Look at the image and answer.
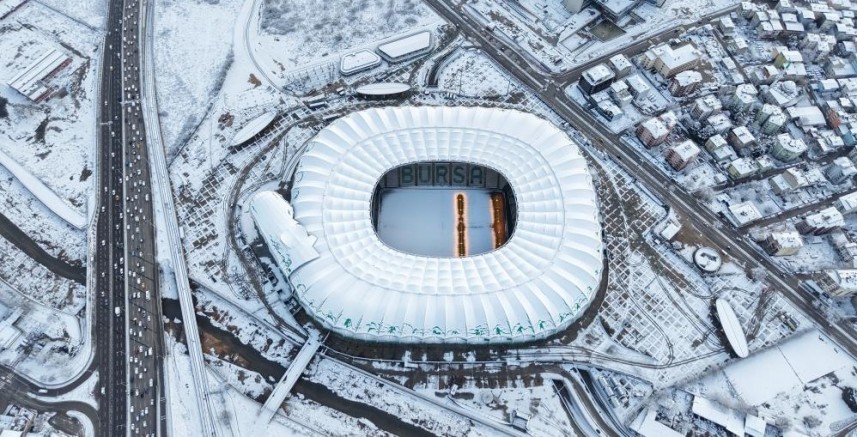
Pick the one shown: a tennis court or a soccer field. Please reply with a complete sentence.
Looking from above, you can make out a soccer field.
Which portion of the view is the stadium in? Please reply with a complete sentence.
The stadium is in the center part of the image.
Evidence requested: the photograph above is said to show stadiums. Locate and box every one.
[255,111,603,345]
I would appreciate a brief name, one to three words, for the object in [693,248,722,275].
building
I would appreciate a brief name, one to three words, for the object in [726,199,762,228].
house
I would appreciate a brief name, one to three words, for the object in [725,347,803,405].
sports field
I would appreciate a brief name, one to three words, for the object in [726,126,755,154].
building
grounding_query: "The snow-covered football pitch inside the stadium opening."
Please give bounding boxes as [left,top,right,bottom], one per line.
[380,189,511,257]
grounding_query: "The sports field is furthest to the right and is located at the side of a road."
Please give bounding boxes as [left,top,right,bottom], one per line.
[781,330,843,382]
